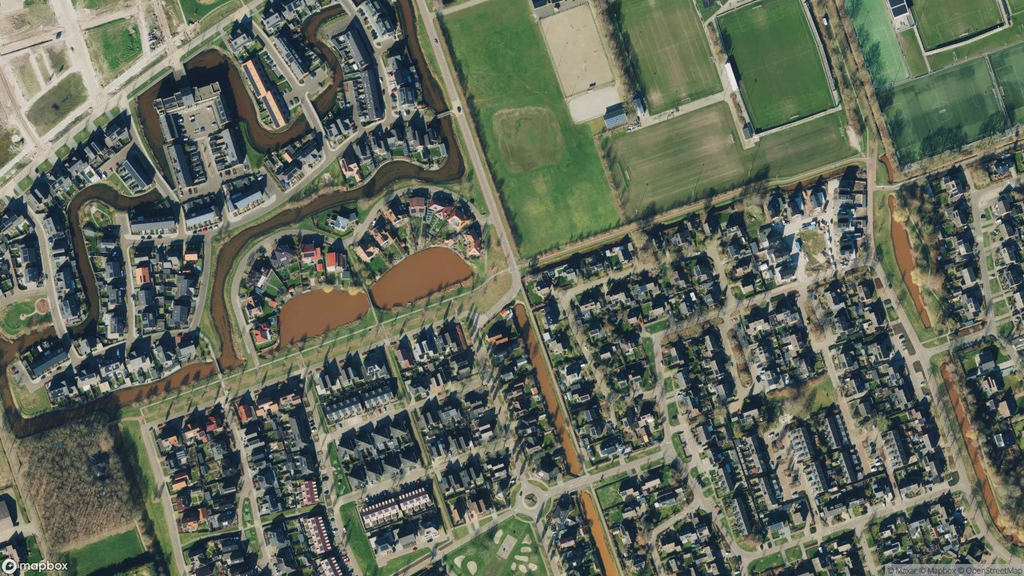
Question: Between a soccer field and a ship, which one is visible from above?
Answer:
soccer field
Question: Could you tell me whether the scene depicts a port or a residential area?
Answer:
residential area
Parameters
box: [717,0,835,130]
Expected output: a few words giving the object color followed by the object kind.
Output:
green soccer field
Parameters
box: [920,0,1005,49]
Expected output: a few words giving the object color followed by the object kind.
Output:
green soccer field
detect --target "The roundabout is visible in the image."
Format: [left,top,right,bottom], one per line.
[514,483,549,515]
